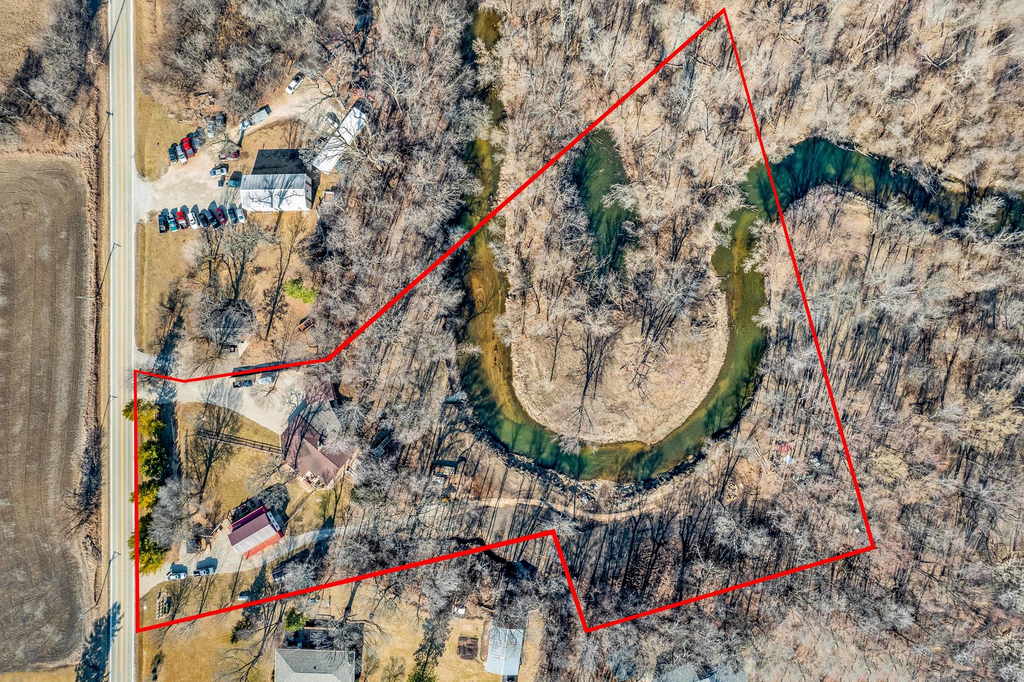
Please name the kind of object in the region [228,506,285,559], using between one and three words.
barn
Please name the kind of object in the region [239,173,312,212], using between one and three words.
barn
